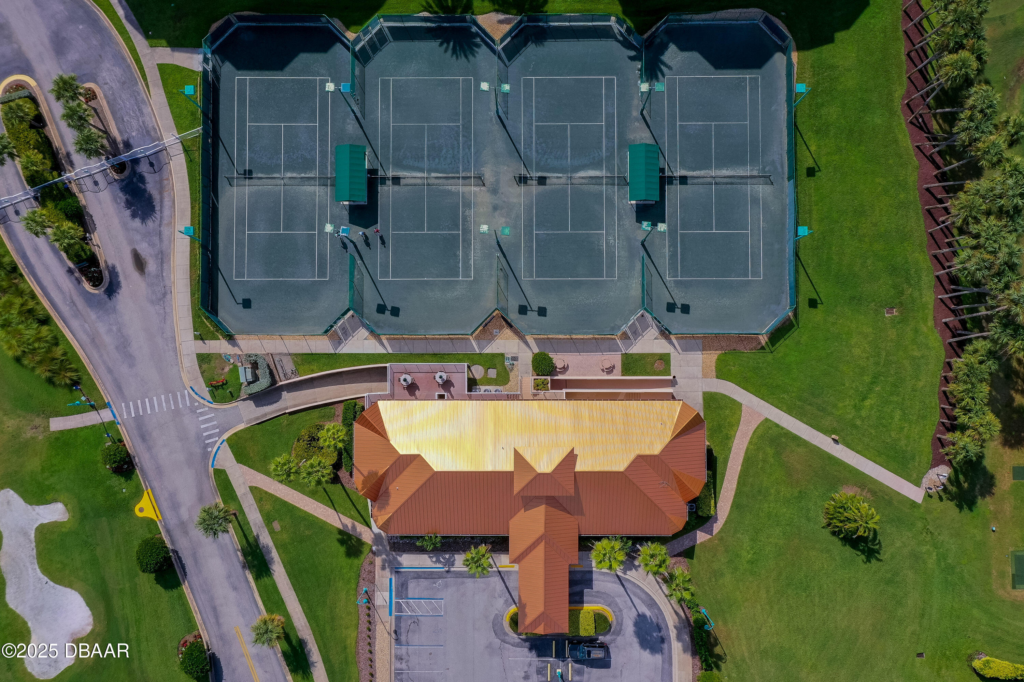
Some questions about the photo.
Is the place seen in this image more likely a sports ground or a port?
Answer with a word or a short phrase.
sports ground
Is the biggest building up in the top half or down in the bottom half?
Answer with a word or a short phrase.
bottom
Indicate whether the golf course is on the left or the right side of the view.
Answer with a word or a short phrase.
left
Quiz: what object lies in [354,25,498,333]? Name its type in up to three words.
tennis court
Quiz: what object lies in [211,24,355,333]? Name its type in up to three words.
tennis court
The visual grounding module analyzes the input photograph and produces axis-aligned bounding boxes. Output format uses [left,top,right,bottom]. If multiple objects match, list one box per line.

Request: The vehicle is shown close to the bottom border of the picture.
[567,641,608,664]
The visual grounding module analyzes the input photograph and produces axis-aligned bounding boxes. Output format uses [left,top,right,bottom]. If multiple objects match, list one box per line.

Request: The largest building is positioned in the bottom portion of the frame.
[353,398,707,635]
